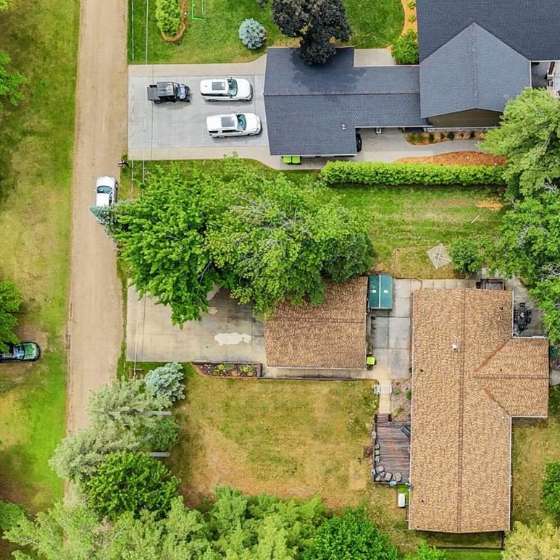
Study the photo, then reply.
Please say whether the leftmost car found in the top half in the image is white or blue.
white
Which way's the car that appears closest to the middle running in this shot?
from side to side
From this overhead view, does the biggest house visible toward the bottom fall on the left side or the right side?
right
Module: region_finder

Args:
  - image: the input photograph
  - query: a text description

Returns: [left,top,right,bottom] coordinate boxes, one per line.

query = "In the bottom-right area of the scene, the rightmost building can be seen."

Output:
[406,286,550,535]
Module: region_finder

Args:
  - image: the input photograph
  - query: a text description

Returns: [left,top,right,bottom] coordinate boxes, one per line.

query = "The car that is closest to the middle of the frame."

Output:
[207,111,260,136]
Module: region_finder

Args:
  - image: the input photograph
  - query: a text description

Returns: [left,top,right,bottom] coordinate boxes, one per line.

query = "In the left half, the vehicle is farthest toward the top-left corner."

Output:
[145,81,188,102]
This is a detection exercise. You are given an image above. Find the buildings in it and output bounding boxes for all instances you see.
[369,274,394,309]
[406,286,550,535]
[260,278,368,370]
[264,0,560,158]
